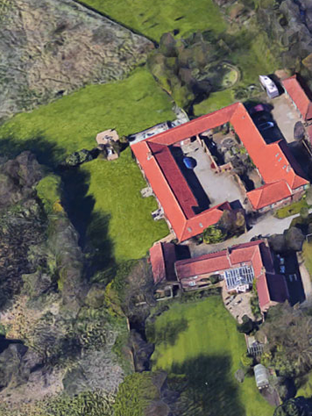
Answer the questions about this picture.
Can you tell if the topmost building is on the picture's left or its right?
right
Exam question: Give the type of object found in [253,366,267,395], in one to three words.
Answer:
shed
